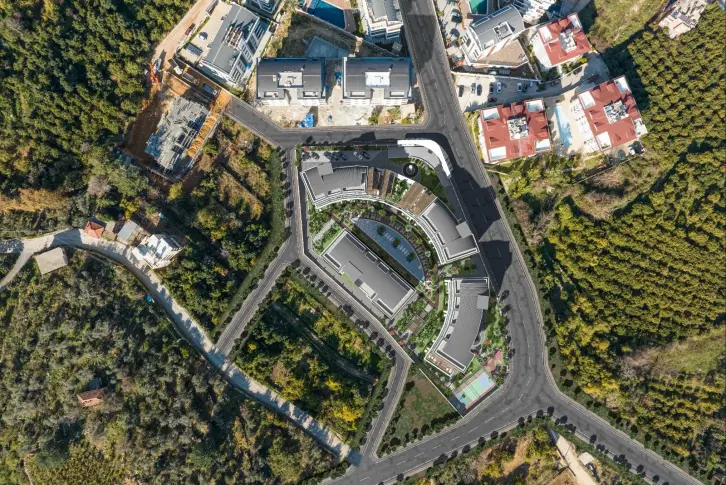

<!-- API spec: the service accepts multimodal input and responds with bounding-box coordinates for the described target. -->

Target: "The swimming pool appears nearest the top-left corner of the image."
[306,0,345,30]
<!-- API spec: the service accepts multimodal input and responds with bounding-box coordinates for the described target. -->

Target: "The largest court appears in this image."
[452,368,500,414]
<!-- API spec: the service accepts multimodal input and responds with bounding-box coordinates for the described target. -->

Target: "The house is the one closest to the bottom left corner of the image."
[78,388,107,406]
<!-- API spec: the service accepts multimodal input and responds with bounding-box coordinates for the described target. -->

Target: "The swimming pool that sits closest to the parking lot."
[554,103,573,147]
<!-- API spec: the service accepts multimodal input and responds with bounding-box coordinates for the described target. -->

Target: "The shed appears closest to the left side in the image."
[35,247,70,274]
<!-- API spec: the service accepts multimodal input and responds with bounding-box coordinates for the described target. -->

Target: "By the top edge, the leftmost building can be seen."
[203,2,267,82]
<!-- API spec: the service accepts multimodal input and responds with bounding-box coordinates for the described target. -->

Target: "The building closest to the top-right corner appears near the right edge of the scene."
[652,0,708,42]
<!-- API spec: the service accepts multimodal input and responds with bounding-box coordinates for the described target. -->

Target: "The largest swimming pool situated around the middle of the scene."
[352,218,425,282]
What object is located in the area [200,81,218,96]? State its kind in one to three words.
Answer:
vehicle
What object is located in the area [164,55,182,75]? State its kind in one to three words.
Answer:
vehicle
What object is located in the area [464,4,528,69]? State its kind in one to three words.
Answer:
building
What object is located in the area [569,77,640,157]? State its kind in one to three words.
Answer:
house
